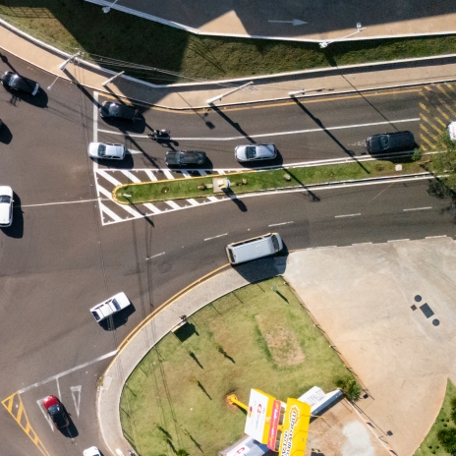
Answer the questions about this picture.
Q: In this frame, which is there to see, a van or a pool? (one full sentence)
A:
The image shows a van.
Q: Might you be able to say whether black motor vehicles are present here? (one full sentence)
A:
Yes, a black motor vehicle can be made out from above.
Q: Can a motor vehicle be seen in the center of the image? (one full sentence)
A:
Yes, I can see a motor vehicle in the center of the image.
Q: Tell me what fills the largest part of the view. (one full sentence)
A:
For the most part, this view shows paved ground.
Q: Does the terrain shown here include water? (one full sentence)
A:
No, the scene doesn't show any water.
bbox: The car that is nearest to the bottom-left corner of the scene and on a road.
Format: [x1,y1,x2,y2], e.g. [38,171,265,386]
[38,393,73,434]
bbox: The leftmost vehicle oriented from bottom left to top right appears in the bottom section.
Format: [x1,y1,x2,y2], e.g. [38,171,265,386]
[89,290,131,324]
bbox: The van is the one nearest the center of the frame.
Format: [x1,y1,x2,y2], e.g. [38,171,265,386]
[223,231,286,264]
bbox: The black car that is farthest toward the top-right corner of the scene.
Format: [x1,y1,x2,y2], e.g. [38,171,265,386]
[364,130,419,155]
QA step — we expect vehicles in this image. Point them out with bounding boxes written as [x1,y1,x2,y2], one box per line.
[38,393,73,434]
[364,130,419,155]
[0,185,15,227]
[0,69,45,100]
[223,231,286,264]
[81,443,102,456]
[89,290,131,324]
[88,140,128,162]
[165,147,213,170]
[234,143,279,165]
[99,97,145,122]
[150,132,170,139]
